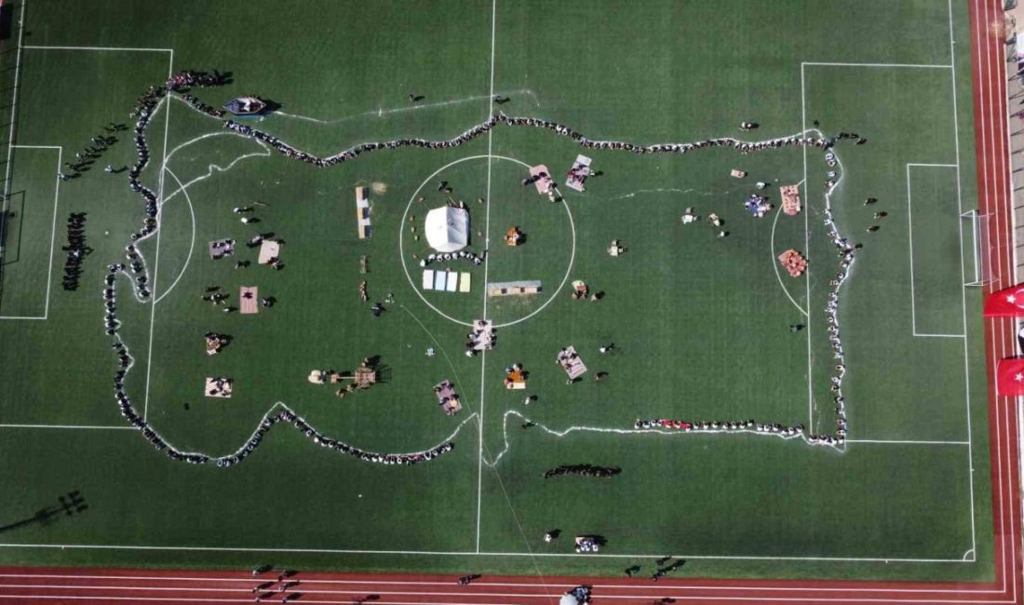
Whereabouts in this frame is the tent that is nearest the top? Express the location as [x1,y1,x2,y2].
[415,198,485,256]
